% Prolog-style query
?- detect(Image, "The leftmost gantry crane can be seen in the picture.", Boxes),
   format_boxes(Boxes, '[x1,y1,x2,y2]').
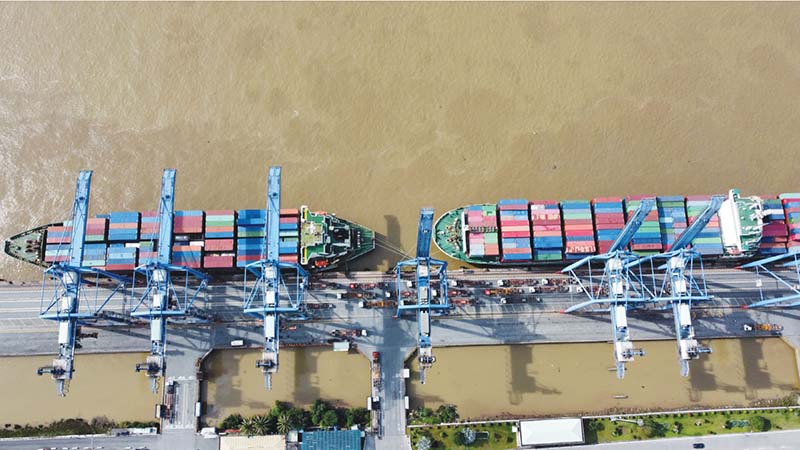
[28,168,144,397]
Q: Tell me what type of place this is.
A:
port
